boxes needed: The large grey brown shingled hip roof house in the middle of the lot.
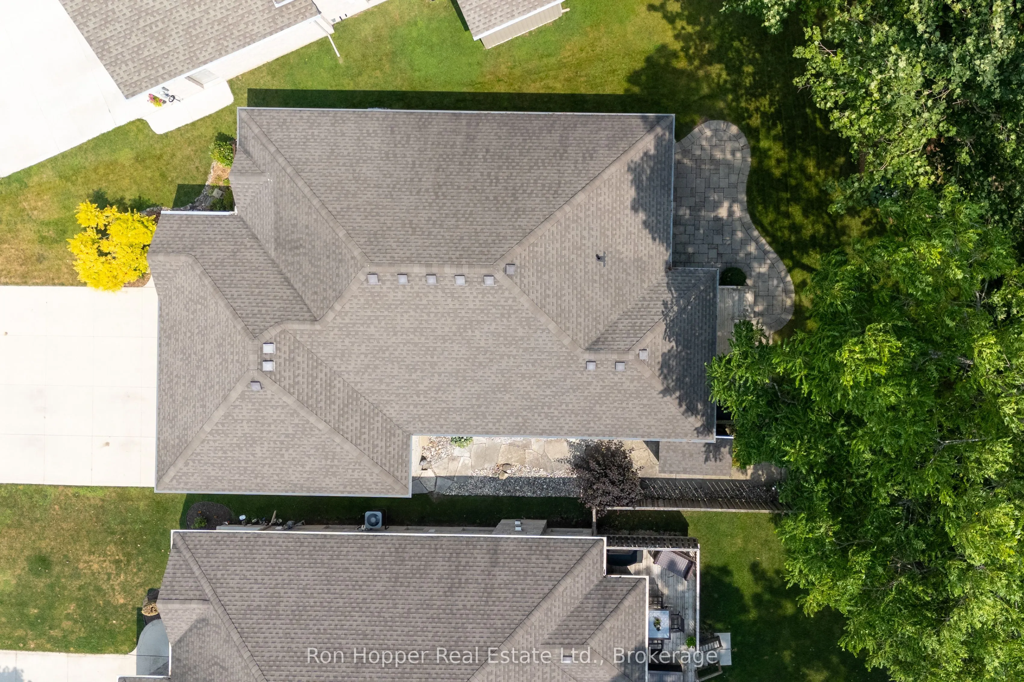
[146,105,719,500]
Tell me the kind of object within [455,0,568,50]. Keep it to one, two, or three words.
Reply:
shed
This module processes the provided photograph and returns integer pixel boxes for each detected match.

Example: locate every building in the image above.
[146,105,719,500]
[115,517,651,682]
[60,0,389,102]
[455,0,568,50]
